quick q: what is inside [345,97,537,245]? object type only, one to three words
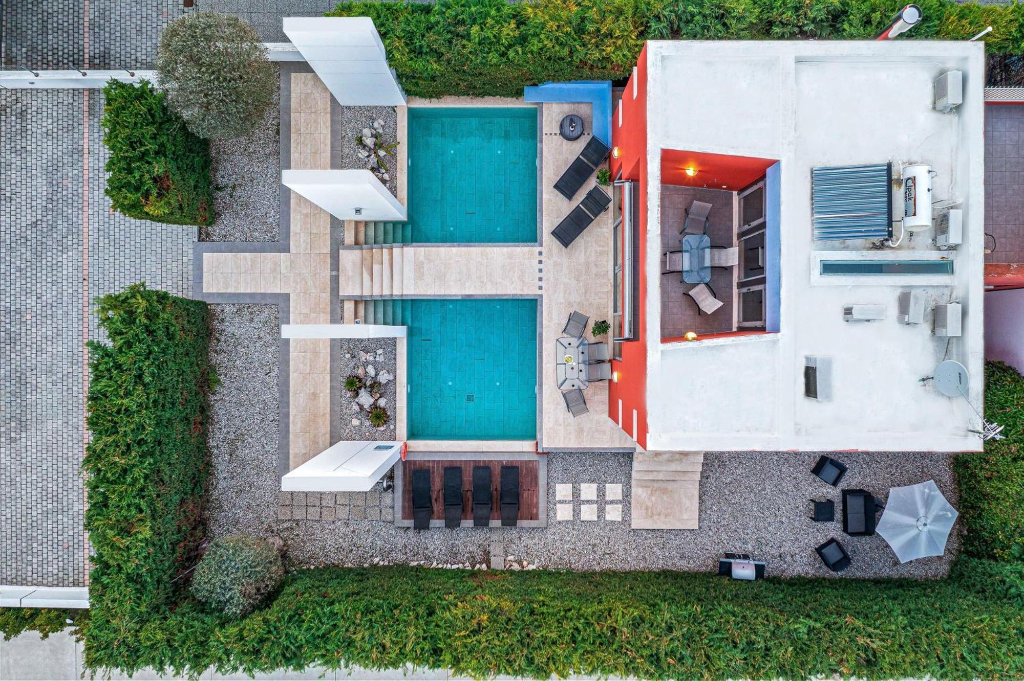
swimming pool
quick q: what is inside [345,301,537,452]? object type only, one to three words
swimming pool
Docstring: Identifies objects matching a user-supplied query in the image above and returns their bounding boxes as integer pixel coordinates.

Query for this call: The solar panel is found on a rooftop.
[809,161,895,241]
